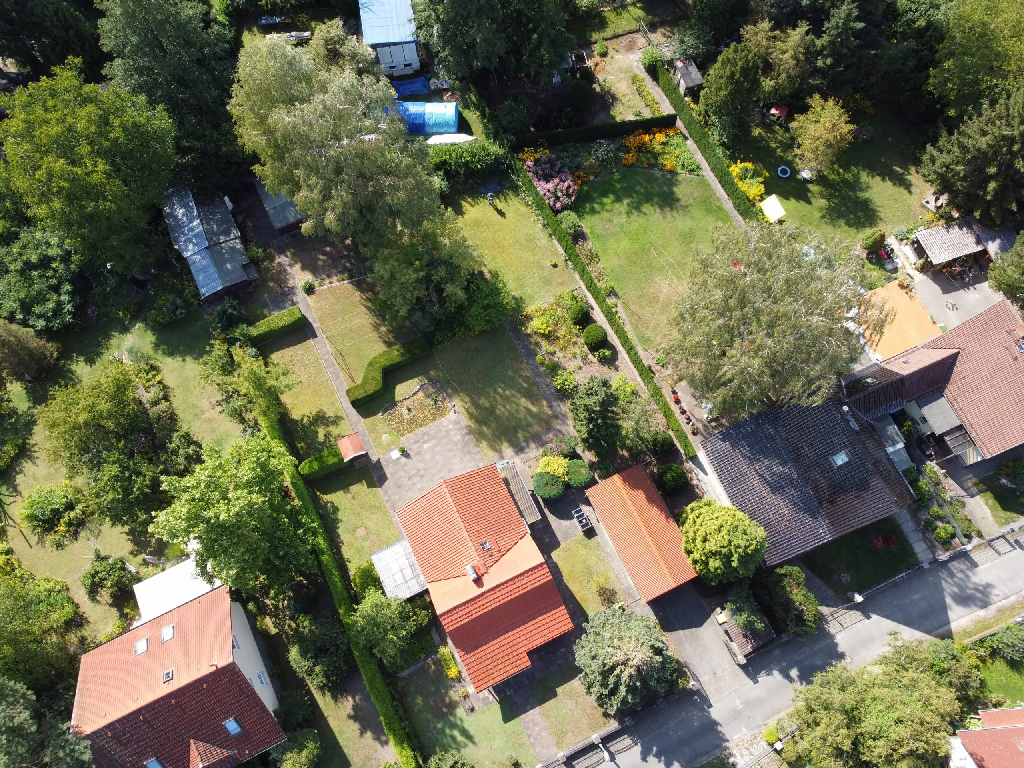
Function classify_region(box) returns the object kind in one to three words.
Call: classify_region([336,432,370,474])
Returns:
shed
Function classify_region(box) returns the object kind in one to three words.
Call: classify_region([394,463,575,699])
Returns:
house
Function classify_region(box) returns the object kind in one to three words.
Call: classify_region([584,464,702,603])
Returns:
building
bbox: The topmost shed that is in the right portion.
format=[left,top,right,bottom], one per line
[671,59,703,100]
